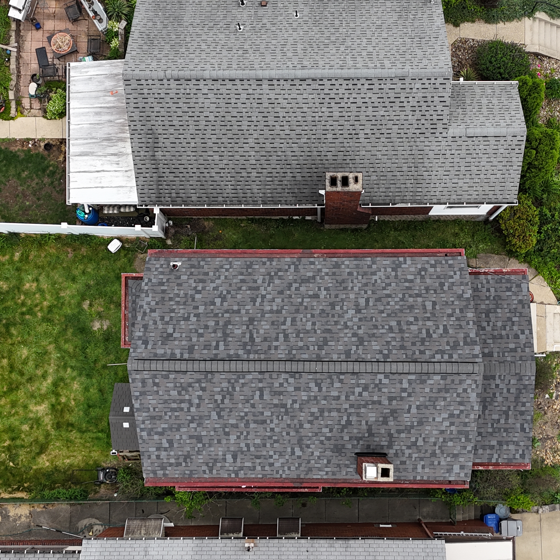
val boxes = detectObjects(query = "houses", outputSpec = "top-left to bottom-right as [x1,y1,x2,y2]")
[0,518,515,560]
[109,249,537,494]
[64,0,526,231]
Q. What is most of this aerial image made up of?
buildings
